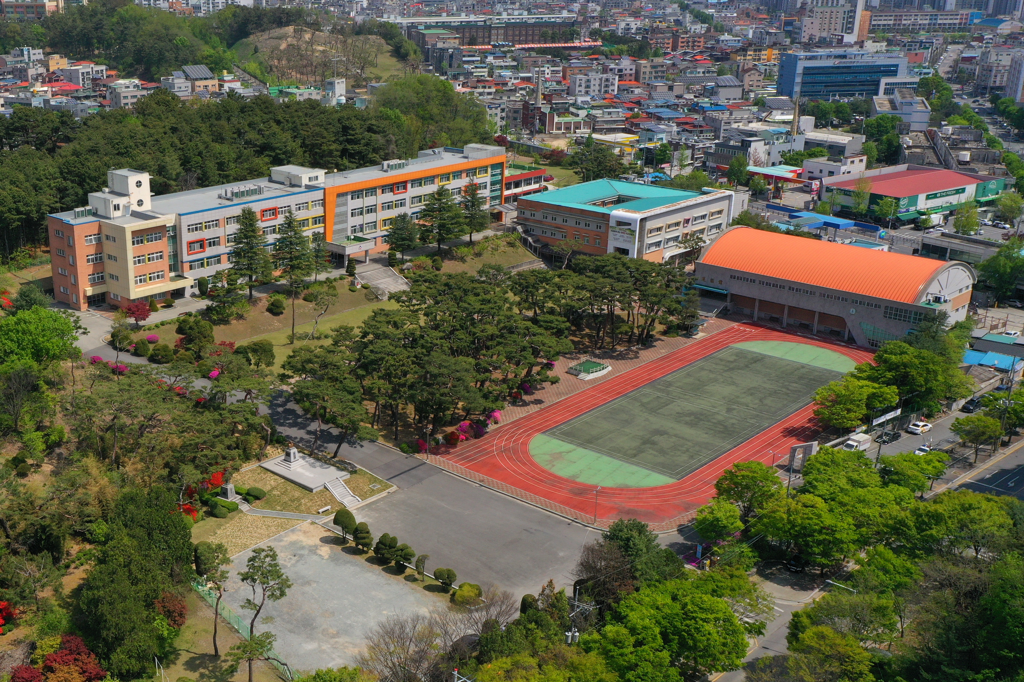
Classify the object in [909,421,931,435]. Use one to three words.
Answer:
car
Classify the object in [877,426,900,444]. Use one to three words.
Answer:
car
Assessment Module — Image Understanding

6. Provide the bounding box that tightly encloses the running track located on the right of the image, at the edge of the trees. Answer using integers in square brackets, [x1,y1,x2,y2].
[426,320,915,525]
